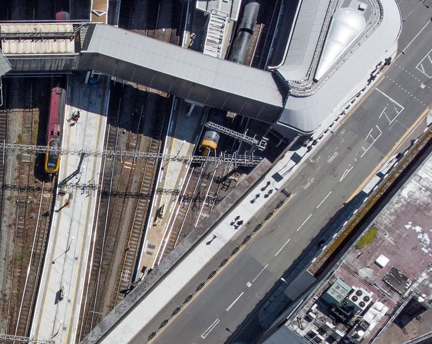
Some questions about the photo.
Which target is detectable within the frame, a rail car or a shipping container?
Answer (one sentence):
This aerial view contains a rail car.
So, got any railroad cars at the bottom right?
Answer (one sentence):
No, no railroad car is visible at the bottom right.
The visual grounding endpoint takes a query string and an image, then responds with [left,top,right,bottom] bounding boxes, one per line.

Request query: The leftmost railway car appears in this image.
[43,76,68,186]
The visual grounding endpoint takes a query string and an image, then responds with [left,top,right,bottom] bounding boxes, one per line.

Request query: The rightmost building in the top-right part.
[262,0,402,153]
